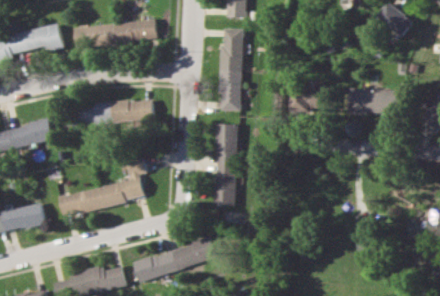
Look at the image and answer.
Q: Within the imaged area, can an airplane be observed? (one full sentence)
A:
No, no airplane is visible in the view.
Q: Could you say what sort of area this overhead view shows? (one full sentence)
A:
What you see here is a residential area.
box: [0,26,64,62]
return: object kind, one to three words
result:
house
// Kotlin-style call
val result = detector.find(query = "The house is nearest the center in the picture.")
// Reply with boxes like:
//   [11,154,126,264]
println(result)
[218,124,239,206]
